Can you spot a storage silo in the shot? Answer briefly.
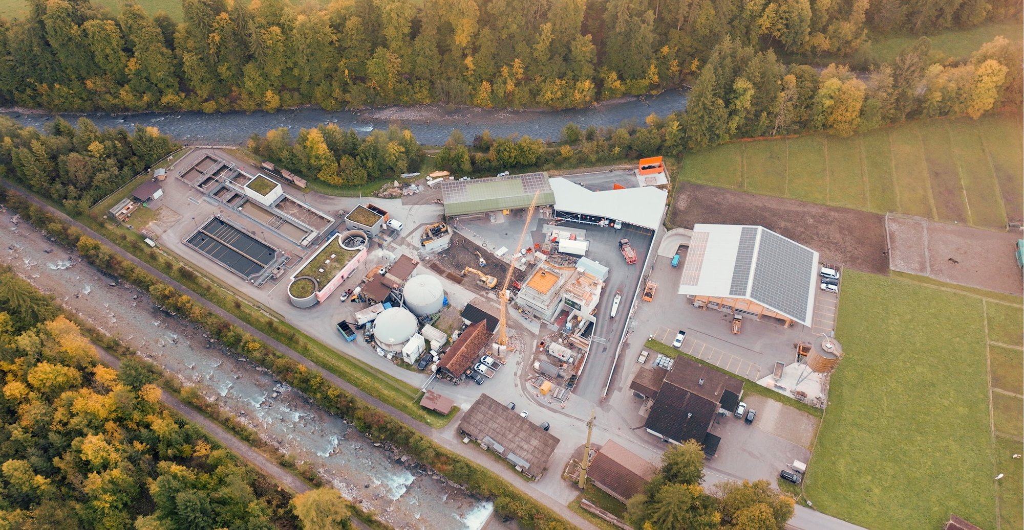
Yes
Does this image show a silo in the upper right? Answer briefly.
No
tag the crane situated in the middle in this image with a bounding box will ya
[489,190,539,358]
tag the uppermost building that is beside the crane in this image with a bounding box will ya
[440,171,556,225]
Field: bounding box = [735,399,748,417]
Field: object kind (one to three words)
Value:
vehicle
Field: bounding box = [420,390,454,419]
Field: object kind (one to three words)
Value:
shed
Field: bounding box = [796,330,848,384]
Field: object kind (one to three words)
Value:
silo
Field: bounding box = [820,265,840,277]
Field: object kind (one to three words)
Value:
vehicle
